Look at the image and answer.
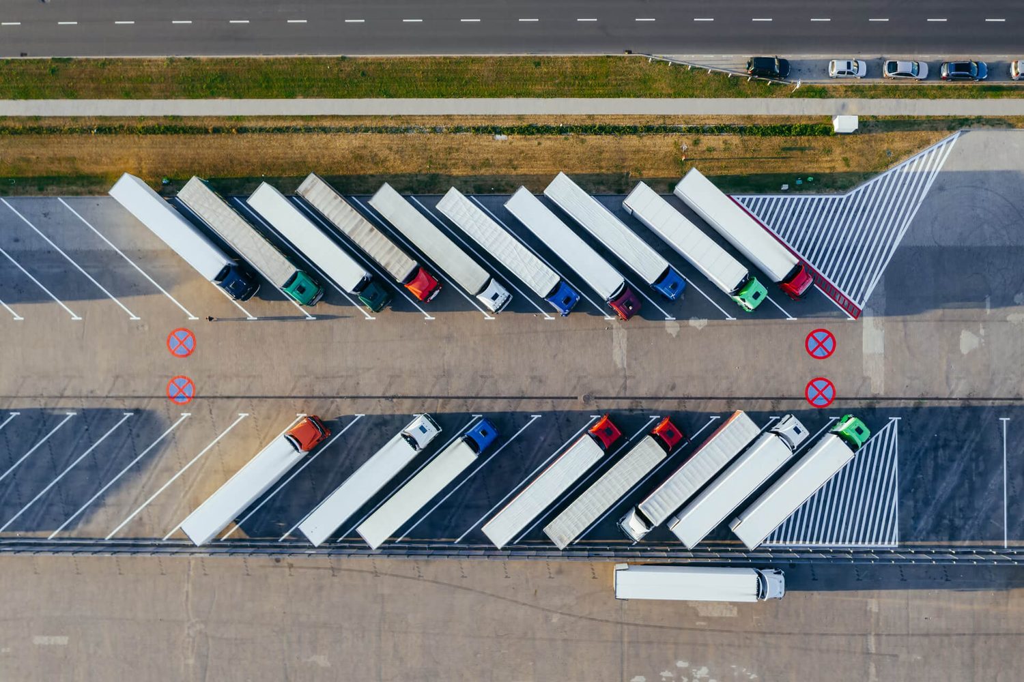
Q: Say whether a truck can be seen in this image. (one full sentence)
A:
Yes, the picture does show a truck.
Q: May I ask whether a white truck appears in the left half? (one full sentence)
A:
Yes, I can see a white truck in the left half.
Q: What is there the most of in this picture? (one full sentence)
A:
For the most part, this view shows paved ground.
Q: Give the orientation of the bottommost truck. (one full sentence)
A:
What the image shows is the bottommost truck lying horizontally.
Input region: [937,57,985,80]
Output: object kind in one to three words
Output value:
car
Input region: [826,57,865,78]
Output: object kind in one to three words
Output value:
car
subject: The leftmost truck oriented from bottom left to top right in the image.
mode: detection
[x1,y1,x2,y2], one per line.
[181,412,334,546]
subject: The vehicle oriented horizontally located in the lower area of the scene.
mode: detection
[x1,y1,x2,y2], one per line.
[611,561,786,603]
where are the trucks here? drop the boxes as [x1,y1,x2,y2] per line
[357,414,501,549]
[670,168,817,301]
[109,173,267,305]
[619,182,769,313]
[299,410,444,546]
[615,408,760,543]
[247,182,395,316]
[543,172,689,304]
[436,187,581,318]
[505,186,644,323]
[177,176,331,310]
[665,412,810,549]
[611,561,786,603]
[724,412,873,550]
[482,413,624,549]
[543,414,685,549]
[296,173,444,305]
[181,412,334,546]
[369,183,514,316]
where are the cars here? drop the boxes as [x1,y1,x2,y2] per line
[937,57,985,80]
[880,57,926,79]
[1008,61,1024,80]
[826,57,865,78]
[745,53,788,77]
